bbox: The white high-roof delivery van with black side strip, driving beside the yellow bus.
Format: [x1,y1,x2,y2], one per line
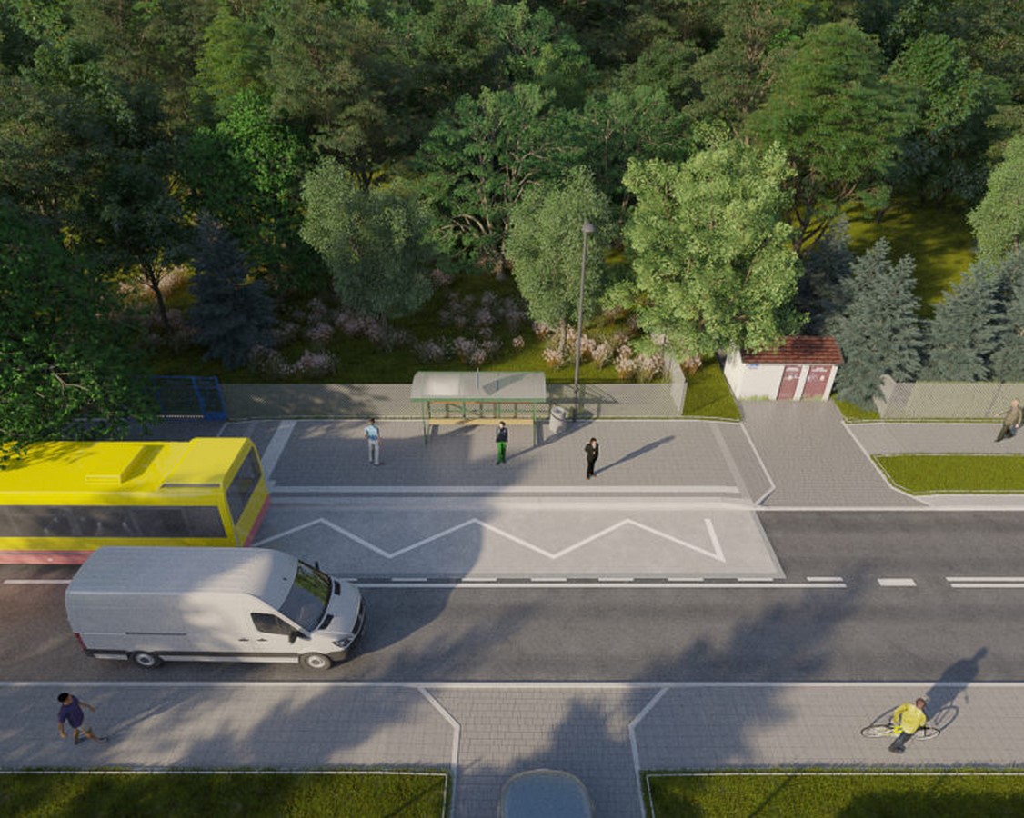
[69,546,370,671]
